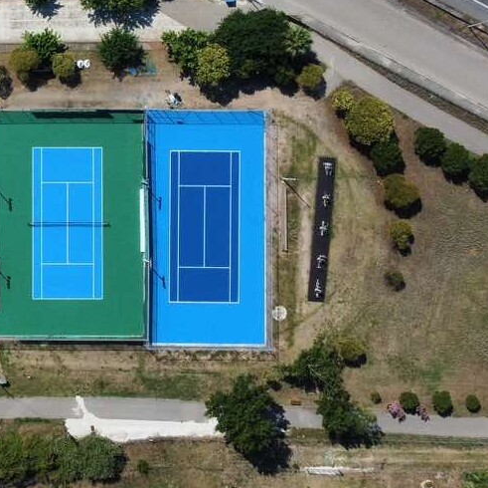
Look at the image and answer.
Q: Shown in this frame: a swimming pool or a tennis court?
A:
tennis court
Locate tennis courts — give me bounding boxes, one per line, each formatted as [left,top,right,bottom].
[0,114,144,336]
[150,113,265,345]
